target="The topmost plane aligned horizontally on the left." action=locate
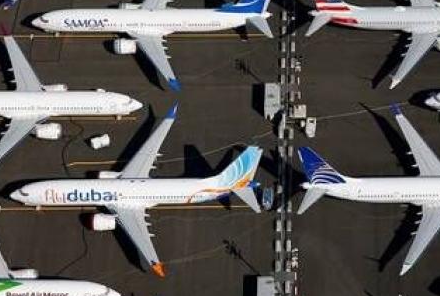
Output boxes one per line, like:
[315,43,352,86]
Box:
[30,0,273,88]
